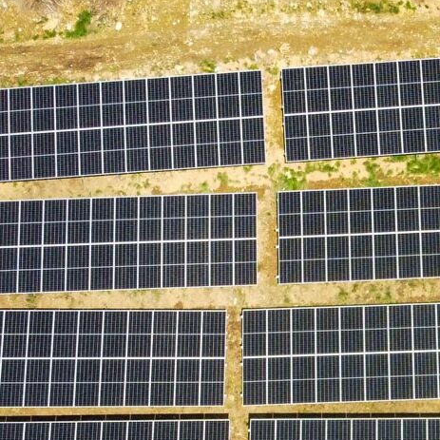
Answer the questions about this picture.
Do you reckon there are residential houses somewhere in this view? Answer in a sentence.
No, the picture doesn't show any residential house.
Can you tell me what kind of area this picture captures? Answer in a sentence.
It's a solar farm.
